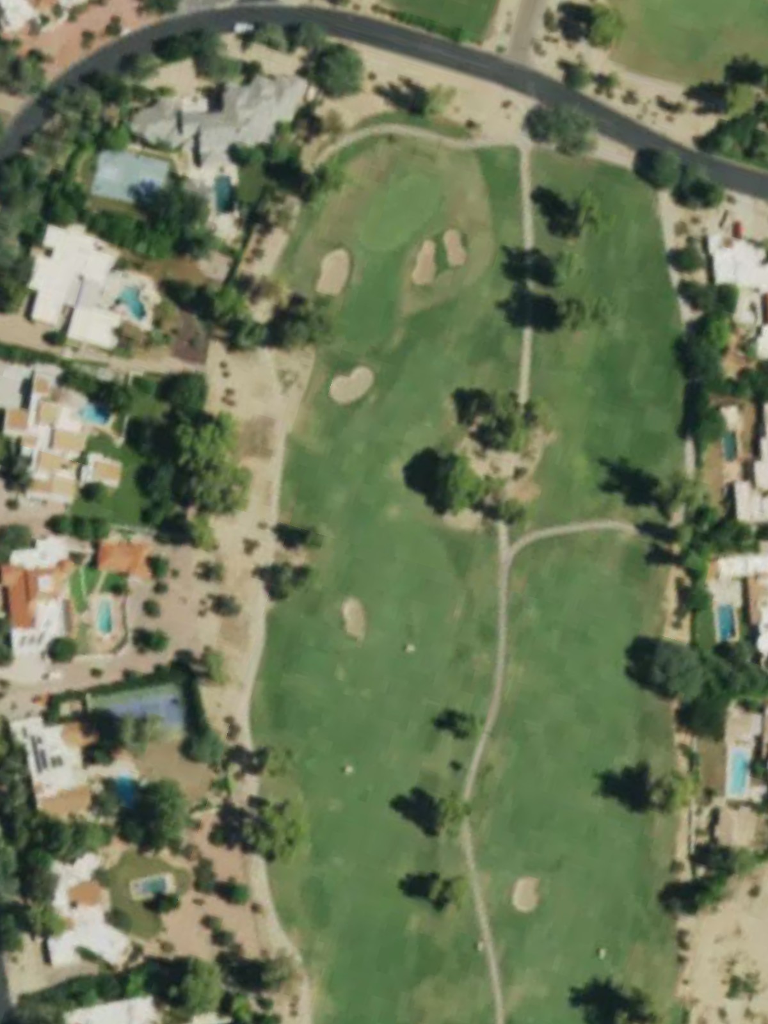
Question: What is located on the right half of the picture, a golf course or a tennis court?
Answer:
golf course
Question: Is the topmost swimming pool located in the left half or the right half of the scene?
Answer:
left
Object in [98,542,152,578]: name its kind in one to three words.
building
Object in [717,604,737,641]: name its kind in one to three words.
swimming pool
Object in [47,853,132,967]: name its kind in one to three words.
house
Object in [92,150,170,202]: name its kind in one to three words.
tennis court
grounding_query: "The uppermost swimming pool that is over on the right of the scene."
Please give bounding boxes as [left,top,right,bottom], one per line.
[720,428,738,463]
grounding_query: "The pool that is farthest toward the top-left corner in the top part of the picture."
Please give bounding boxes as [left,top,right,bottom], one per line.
[214,175,236,213]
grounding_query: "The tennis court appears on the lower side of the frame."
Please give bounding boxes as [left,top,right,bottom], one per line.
[86,682,184,748]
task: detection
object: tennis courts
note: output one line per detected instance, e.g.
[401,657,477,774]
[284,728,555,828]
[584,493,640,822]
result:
[92,150,170,202]
[86,682,184,748]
